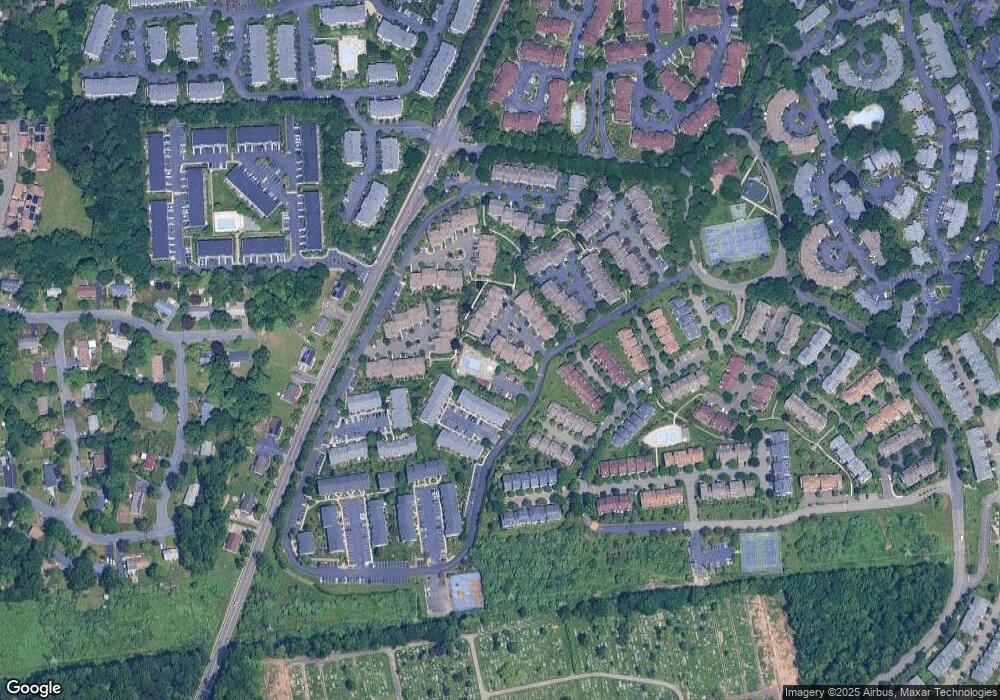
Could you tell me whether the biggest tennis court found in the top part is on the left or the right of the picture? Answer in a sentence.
The biggest tennis court found in the top part sits on the right side.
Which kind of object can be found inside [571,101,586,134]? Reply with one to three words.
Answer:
swimming pool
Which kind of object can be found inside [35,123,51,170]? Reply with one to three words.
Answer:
house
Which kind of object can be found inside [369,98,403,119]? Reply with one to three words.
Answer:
building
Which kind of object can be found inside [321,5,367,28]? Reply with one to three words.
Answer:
building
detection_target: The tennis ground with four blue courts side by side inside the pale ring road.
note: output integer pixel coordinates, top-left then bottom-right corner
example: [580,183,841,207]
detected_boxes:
[700,216,774,266]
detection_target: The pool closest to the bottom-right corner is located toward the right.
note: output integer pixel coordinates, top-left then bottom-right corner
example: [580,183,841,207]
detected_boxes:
[645,425,683,447]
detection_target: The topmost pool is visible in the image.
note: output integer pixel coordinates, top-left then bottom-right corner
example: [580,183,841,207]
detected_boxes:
[339,35,366,71]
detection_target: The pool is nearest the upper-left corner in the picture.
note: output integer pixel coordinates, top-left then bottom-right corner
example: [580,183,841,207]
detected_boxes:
[213,211,243,232]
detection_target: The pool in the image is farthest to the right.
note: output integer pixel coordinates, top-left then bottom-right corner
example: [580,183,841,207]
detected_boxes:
[843,103,885,129]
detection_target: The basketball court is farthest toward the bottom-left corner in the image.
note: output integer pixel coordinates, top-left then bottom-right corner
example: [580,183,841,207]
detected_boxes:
[450,571,484,612]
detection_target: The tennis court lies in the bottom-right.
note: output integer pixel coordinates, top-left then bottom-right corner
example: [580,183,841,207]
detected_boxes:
[739,531,782,574]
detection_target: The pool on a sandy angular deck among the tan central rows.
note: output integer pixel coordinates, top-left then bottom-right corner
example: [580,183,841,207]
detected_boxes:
[458,347,497,382]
